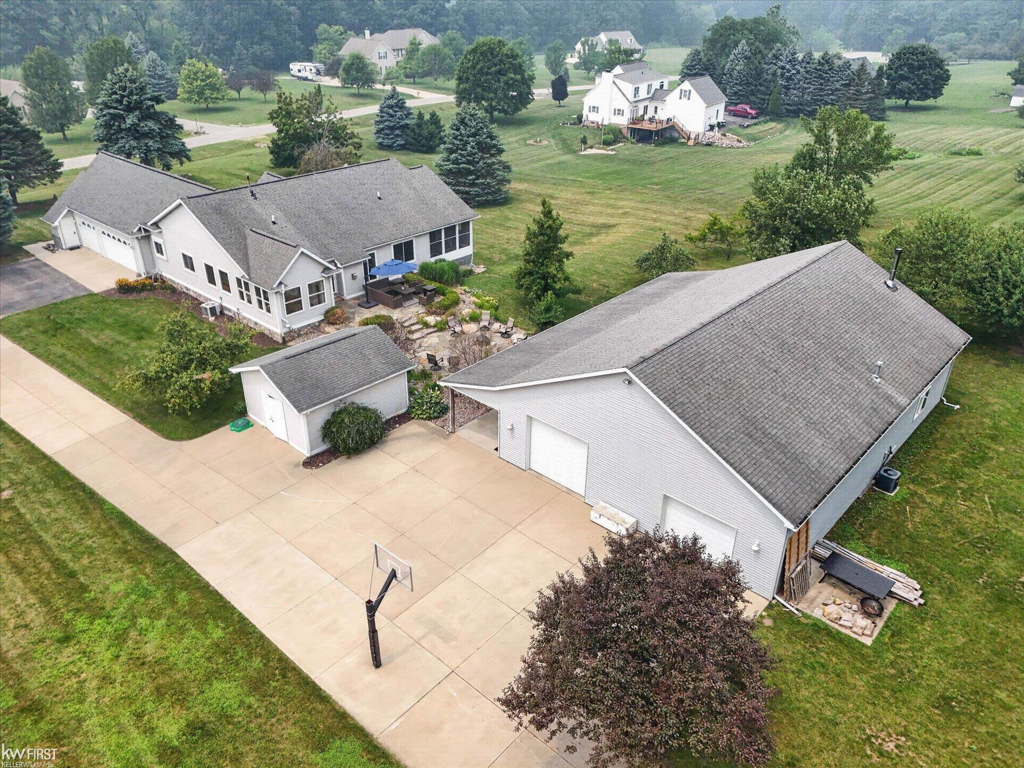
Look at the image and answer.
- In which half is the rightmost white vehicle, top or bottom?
top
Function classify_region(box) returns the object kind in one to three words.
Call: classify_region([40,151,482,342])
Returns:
house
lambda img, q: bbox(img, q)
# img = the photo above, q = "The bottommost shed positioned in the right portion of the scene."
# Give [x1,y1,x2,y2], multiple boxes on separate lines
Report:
[443,236,968,617]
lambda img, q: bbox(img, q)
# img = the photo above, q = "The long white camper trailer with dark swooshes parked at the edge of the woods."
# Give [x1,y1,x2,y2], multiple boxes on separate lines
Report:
[284,60,327,82]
